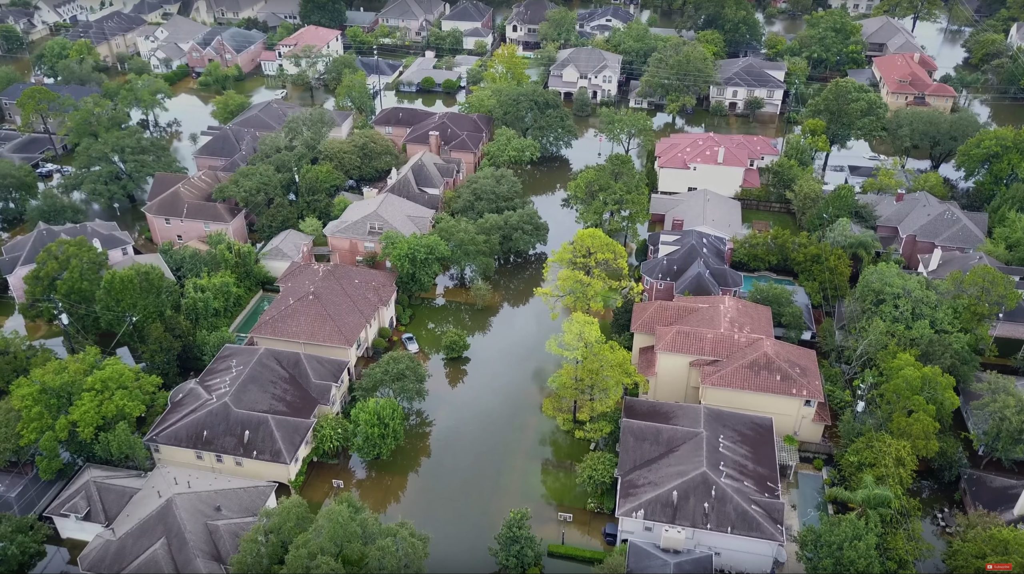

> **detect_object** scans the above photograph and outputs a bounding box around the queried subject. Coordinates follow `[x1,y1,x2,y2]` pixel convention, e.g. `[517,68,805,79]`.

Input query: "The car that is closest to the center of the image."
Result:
[398,332,423,356]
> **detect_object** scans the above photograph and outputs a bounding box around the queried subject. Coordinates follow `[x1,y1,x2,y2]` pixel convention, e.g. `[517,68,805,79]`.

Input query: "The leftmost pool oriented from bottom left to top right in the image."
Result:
[231,292,276,343]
